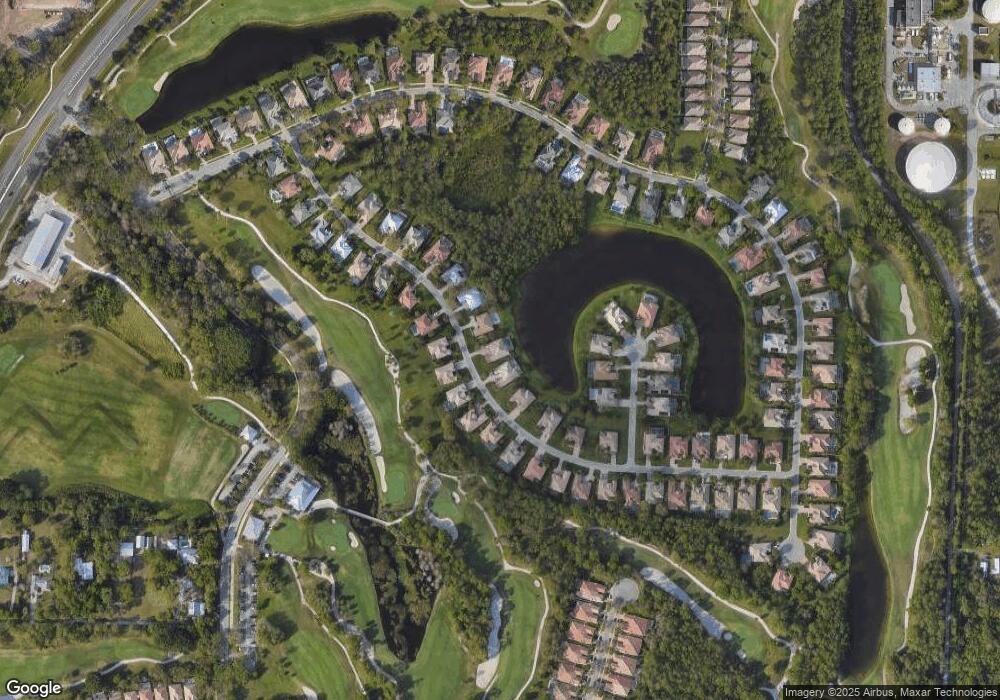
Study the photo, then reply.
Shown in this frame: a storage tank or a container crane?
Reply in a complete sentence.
Of the two, only a storage tank appears.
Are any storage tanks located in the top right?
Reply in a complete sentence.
Yes, a storage tank appears in the top right.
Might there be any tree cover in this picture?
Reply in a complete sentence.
Yes, there's tree cover in this view.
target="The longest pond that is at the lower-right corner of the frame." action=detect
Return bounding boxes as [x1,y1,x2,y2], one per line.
[840,484,890,678]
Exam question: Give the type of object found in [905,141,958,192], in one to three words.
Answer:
storage tank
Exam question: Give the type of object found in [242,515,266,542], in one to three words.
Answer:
barn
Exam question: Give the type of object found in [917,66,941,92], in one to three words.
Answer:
building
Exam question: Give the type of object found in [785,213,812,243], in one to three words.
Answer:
house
